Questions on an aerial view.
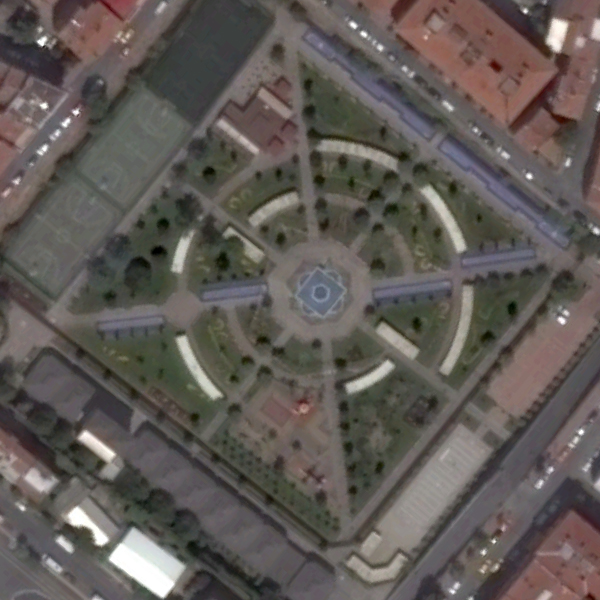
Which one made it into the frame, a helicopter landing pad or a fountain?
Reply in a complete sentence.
This aerial view contains a fountain.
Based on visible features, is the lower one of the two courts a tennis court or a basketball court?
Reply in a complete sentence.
From above, the lower one of the two courts can be identified as a basketball court.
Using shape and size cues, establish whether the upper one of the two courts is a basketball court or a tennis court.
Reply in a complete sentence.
Specifically, the upper one of the two courts is a basketball court.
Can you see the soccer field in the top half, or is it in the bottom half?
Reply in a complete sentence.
The soccer field sits in the top half of the picture.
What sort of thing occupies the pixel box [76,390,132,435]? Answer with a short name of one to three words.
building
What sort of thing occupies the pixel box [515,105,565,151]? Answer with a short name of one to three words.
house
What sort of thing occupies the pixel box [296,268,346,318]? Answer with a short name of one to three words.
fountain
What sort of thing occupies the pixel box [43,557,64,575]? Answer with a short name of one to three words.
vehicle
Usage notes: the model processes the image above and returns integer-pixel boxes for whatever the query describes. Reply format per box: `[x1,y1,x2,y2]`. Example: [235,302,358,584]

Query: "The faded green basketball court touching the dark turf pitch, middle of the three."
[74,84,192,212]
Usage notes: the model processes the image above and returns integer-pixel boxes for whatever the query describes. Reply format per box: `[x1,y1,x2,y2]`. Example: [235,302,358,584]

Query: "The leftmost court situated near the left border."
[4,176,121,298]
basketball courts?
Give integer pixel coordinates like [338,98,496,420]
[74,84,192,212]
[4,176,121,298]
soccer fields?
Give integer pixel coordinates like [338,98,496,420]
[140,0,272,122]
